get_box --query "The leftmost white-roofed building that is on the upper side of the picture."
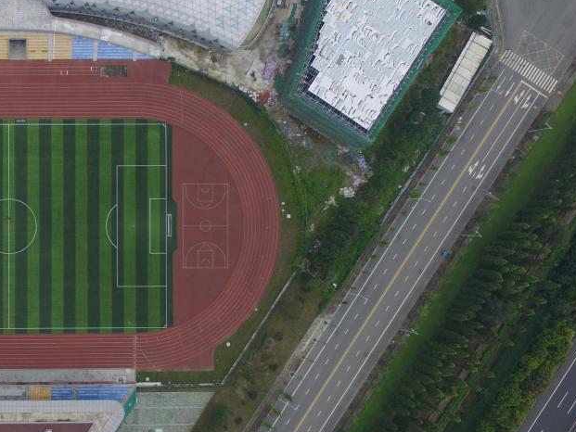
[279,0,461,145]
